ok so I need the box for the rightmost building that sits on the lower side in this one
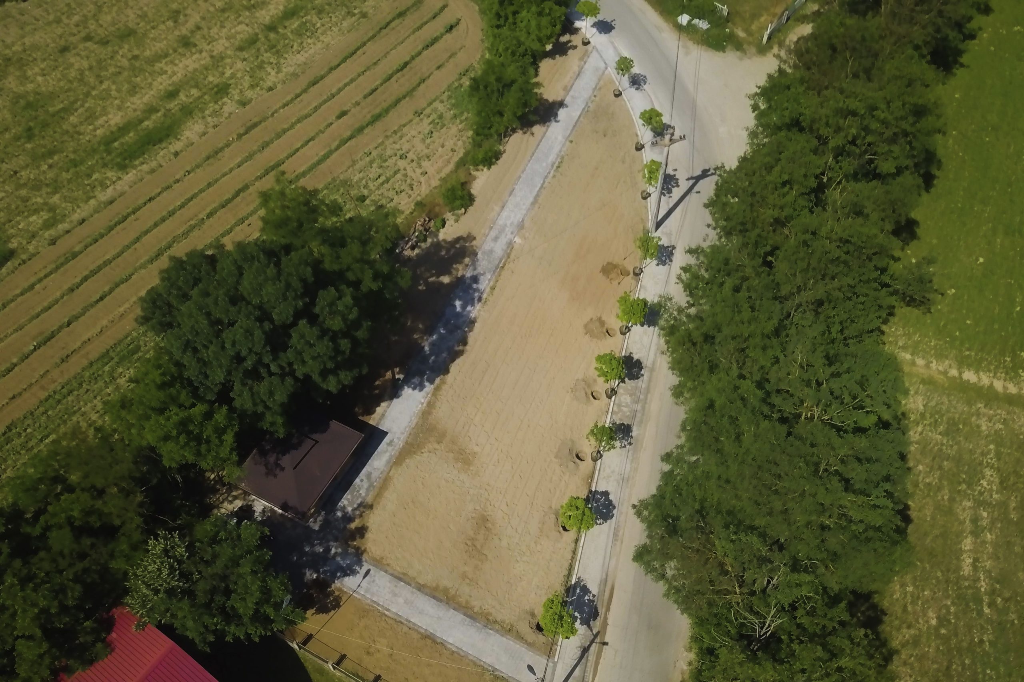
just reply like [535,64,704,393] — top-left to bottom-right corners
[229,400,366,535]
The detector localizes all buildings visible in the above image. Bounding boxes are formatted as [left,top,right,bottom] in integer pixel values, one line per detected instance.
[51,610,220,682]
[229,400,366,535]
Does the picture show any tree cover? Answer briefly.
Yes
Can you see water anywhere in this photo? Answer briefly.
No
